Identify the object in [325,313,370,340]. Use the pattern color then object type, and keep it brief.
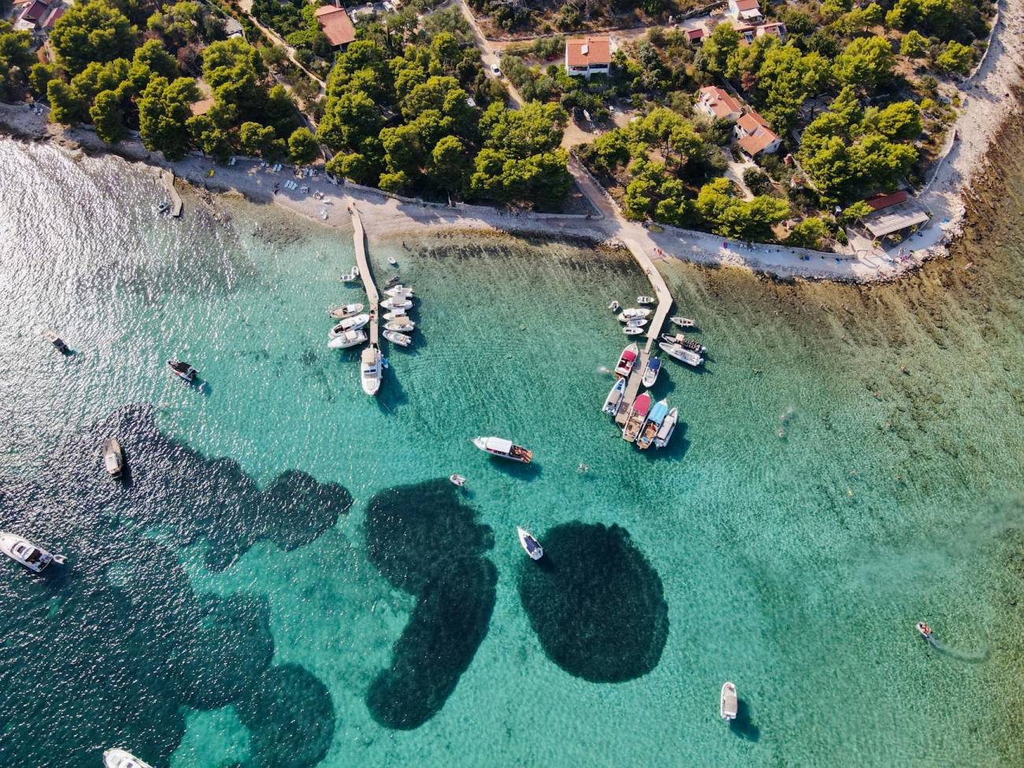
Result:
white boat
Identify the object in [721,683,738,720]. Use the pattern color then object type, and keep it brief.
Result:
white boat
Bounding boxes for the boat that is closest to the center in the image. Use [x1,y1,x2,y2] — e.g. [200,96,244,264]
[468,436,534,464]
